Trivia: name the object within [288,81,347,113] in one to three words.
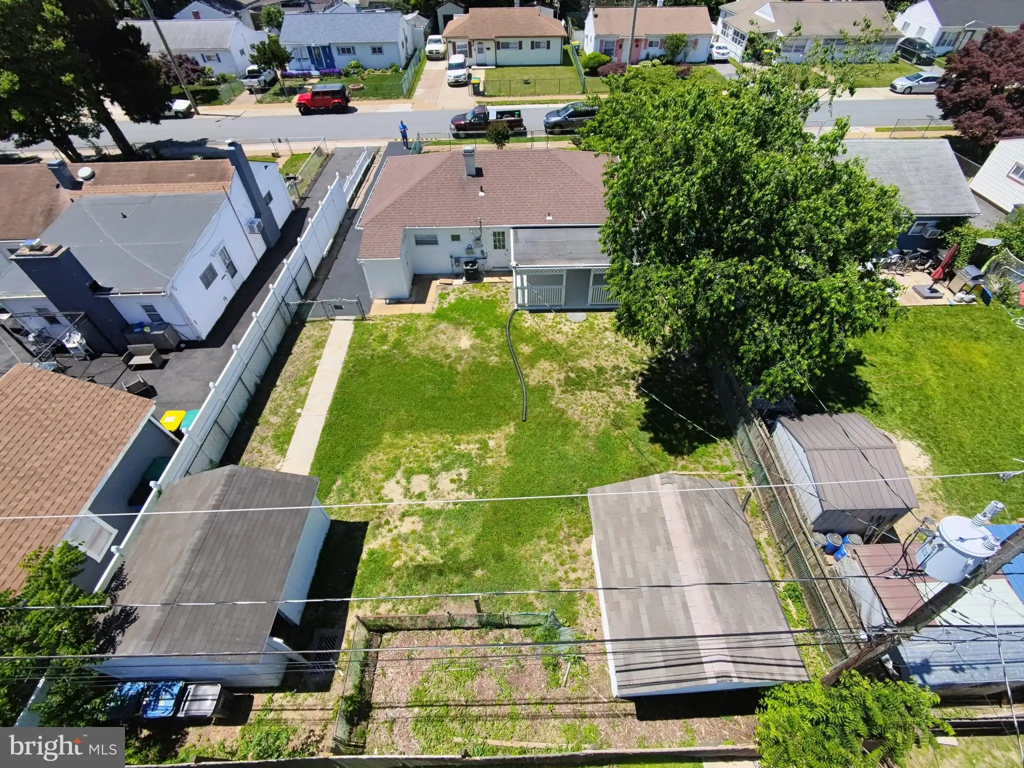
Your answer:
car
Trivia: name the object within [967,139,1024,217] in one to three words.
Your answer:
house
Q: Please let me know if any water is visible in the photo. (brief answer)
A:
No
